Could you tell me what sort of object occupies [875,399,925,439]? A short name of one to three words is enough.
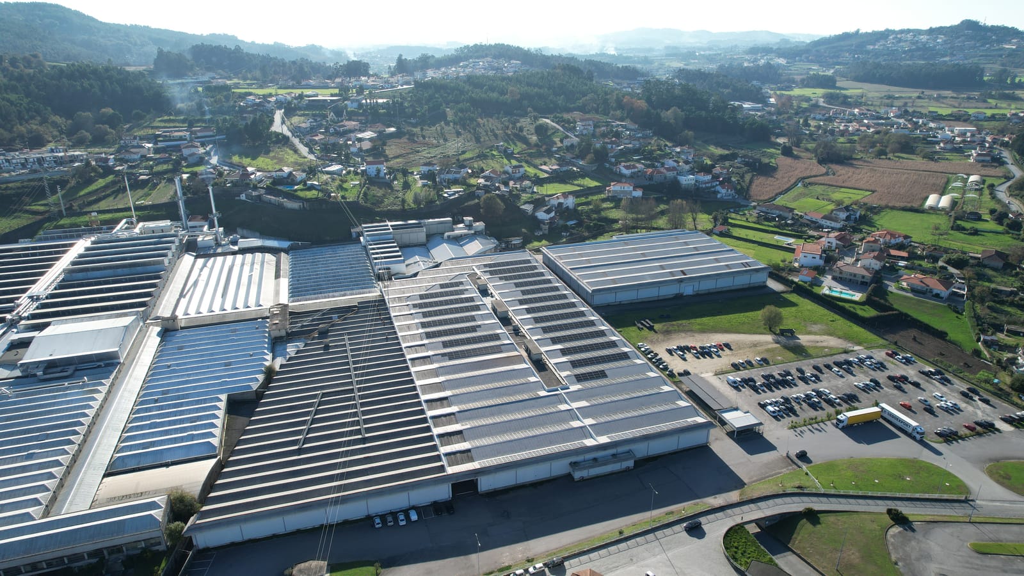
truck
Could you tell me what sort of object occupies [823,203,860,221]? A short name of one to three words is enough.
house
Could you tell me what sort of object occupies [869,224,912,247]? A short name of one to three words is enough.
house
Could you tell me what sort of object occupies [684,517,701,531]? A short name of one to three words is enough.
car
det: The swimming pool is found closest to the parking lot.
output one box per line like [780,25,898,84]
[822,286,861,300]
